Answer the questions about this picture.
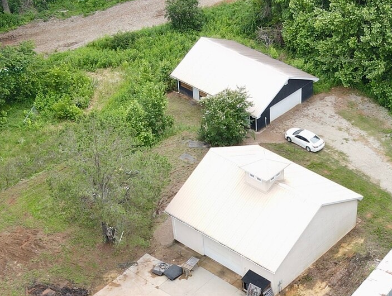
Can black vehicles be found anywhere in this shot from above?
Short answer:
No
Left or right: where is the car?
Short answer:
right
